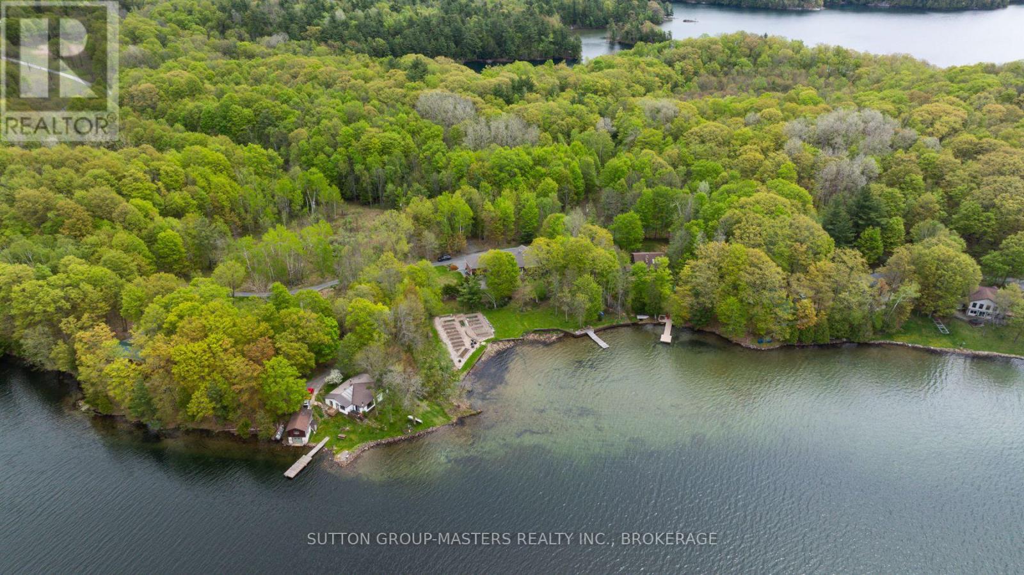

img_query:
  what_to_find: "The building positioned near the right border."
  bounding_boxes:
[962,284,1003,321]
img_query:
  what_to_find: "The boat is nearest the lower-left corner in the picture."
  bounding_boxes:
[273,421,285,441]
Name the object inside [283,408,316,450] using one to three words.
building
